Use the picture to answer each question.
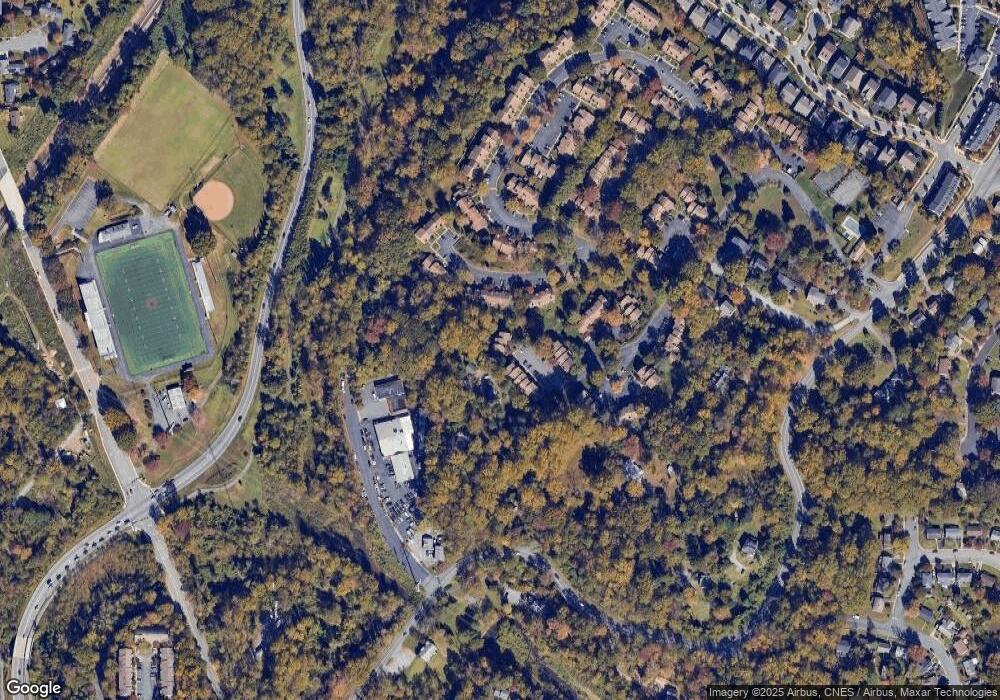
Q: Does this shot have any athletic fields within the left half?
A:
Yes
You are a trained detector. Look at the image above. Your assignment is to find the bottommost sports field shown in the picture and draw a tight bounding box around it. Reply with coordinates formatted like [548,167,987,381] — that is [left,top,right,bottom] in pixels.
[97,231,207,375]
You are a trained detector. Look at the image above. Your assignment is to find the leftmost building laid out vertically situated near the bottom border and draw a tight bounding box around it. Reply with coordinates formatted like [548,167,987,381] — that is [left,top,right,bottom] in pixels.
[118,648,132,698]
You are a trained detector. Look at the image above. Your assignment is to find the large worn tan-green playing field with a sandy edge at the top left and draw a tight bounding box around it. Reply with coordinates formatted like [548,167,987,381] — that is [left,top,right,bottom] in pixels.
[94,53,234,211]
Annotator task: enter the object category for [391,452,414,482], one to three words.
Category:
building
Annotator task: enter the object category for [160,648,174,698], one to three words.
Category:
building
